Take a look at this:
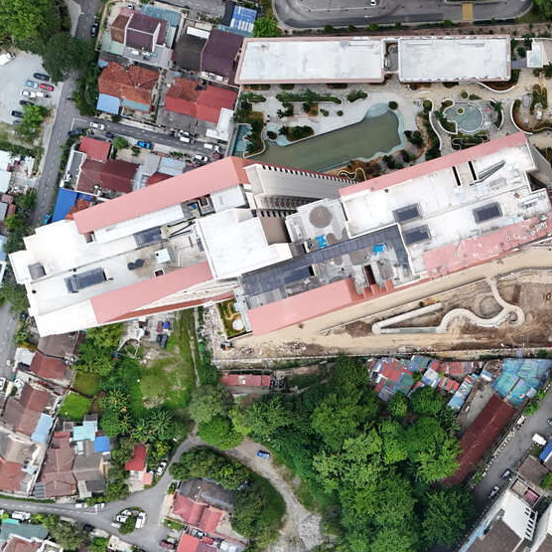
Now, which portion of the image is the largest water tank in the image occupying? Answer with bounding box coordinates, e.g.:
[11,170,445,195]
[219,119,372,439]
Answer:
[309,205,335,227]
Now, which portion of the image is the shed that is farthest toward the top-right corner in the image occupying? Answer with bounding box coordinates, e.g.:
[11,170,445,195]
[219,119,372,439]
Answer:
[528,38,545,70]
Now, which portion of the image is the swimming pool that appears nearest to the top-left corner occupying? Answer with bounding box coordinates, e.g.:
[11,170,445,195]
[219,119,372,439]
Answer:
[231,123,252,157]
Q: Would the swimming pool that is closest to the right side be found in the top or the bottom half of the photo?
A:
top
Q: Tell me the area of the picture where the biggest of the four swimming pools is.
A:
top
